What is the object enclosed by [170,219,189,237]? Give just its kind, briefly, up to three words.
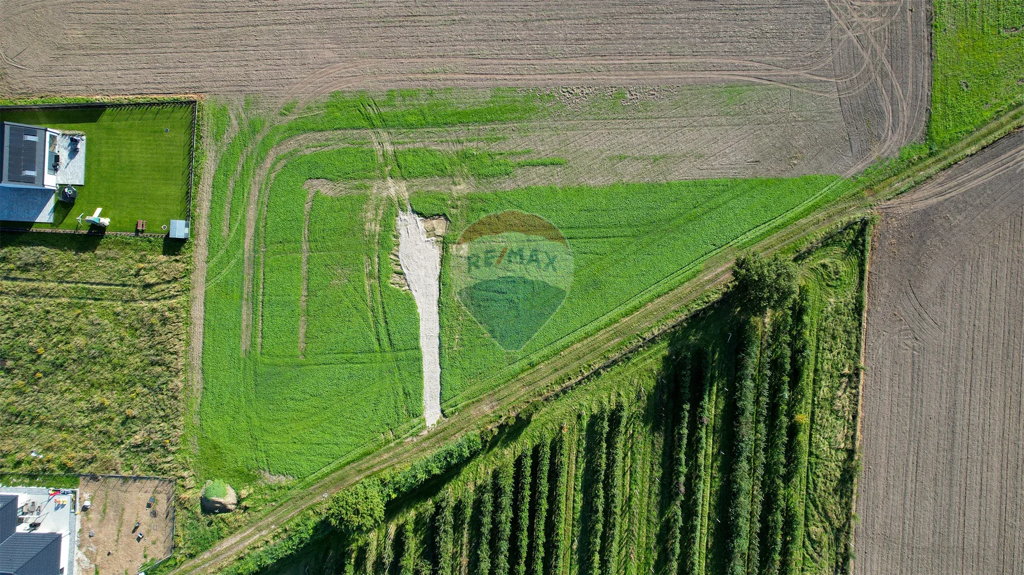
shed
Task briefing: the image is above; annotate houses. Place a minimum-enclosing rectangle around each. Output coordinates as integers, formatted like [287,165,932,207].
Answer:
[0,121,58,189]
[0,491,72,575]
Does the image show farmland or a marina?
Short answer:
farmland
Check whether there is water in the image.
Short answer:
No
